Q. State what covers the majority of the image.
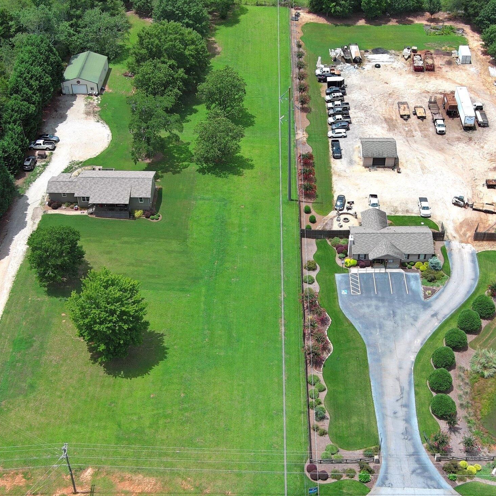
grass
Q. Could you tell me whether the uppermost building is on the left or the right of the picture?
left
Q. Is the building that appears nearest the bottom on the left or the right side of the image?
right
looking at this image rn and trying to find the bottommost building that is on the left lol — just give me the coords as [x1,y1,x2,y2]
[46,171,156,216]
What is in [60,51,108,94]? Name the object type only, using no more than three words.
building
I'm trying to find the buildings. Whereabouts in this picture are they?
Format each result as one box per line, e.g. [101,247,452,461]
[60,51,108,94]
[46,171,156,216]
[359,138,398,166]
[347,205,434,268]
